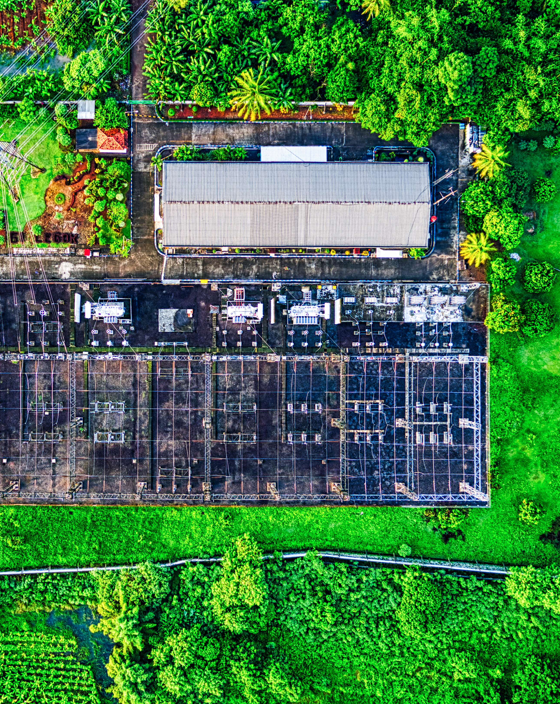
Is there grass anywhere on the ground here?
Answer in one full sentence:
Yes, there's grass in this view.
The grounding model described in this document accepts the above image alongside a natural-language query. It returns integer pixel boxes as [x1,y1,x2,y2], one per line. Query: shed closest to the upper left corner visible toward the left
[77,100,95,121]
